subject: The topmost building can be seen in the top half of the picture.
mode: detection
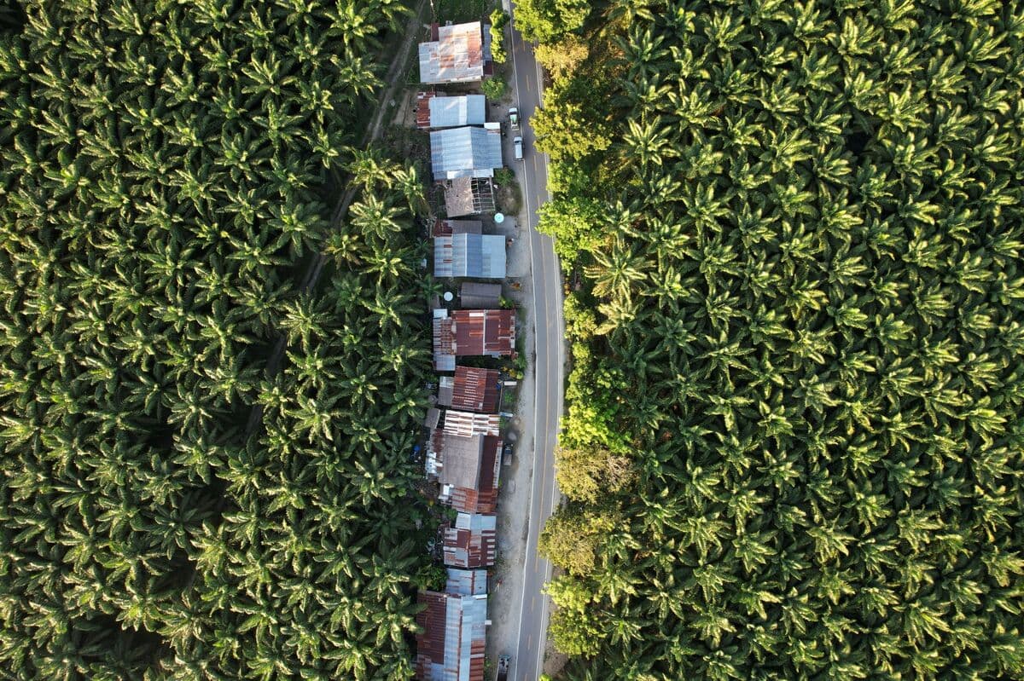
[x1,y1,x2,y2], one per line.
[419,21,494,86]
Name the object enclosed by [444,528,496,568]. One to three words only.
house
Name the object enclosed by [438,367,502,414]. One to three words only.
house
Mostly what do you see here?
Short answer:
trees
